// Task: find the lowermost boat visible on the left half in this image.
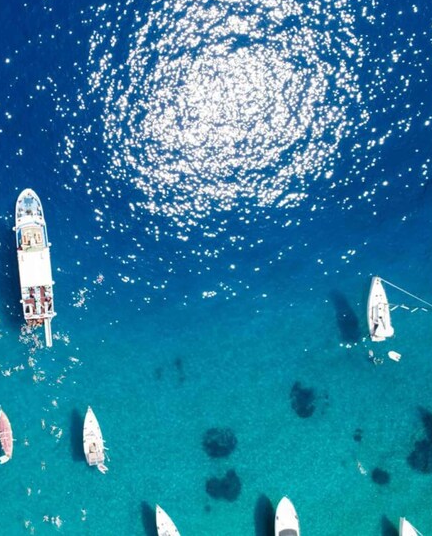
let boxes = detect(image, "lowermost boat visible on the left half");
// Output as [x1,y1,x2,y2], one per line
[155,503,180,536]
